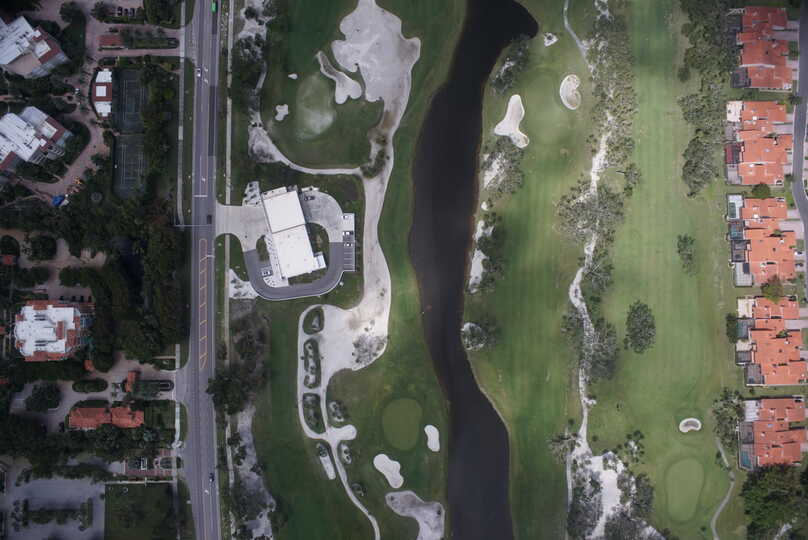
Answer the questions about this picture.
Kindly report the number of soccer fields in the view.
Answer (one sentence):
Not a single soccer field can be seen.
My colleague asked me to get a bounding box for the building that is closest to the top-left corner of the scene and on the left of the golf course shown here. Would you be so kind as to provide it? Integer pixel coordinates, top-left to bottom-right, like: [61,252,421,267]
[0,15,69,81]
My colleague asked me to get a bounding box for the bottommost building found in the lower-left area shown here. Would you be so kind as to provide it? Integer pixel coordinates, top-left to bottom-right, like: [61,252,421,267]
[69,405,145,428]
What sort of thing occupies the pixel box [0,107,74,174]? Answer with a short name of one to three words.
building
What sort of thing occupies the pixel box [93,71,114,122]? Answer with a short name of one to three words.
building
